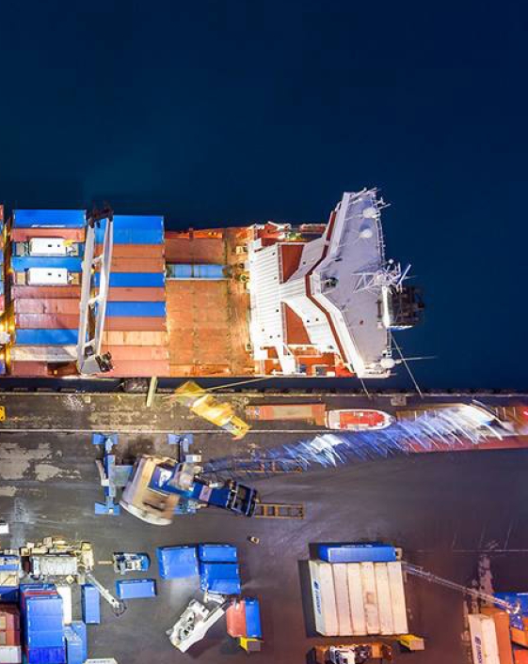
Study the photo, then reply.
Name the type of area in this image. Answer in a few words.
port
